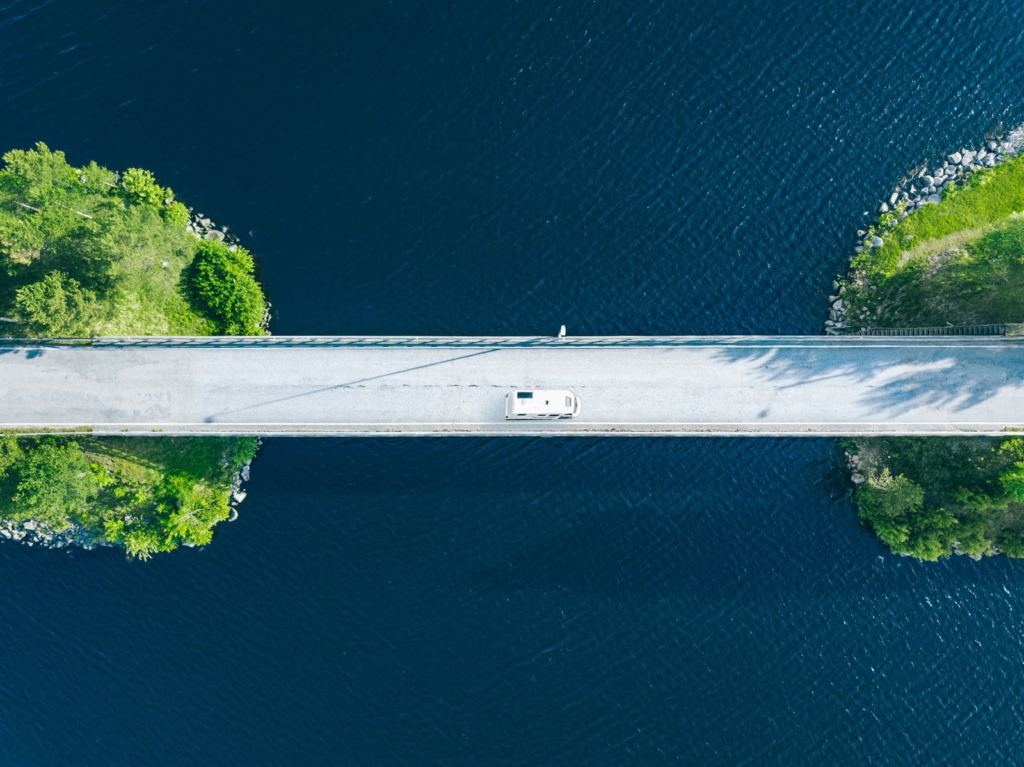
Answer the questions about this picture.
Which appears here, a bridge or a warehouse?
bridge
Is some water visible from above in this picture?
Yes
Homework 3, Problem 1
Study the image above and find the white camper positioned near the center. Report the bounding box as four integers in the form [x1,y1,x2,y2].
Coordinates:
[505,389,581,418]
